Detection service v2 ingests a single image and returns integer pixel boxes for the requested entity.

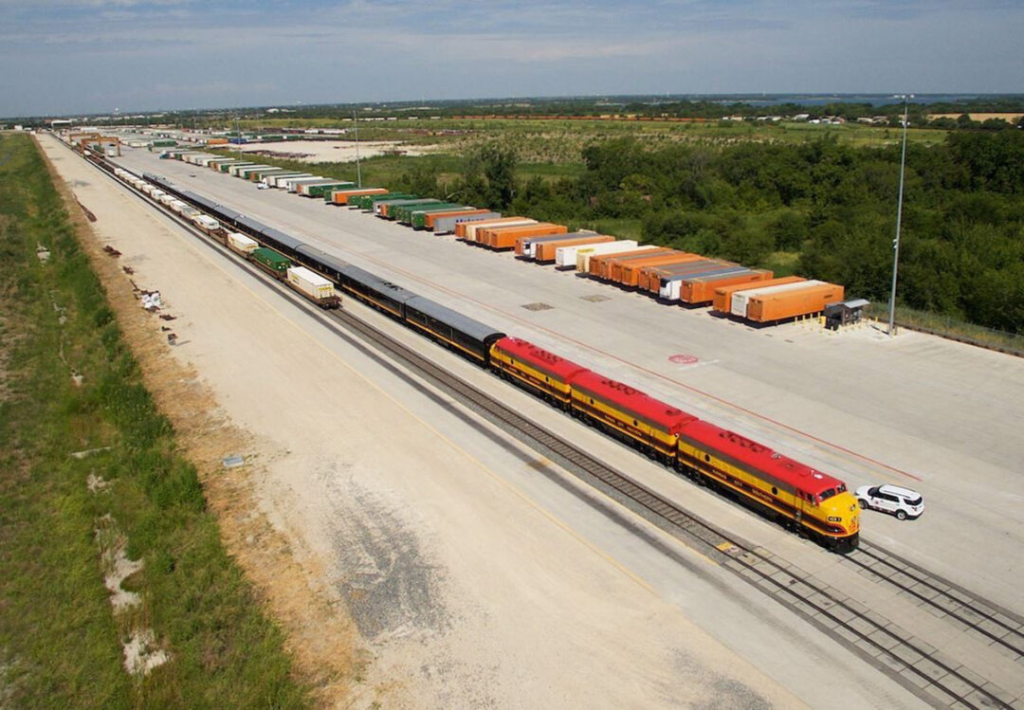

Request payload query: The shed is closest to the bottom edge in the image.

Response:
[821,297,873,331]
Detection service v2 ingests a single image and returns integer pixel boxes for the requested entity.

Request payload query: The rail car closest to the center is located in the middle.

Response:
[499,335,591,402]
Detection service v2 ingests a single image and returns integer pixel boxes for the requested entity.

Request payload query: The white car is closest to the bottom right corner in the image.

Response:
[856,487,926,522]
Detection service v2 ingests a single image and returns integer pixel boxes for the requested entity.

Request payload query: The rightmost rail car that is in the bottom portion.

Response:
[676,414,858,545]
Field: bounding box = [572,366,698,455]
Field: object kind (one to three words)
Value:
rail car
